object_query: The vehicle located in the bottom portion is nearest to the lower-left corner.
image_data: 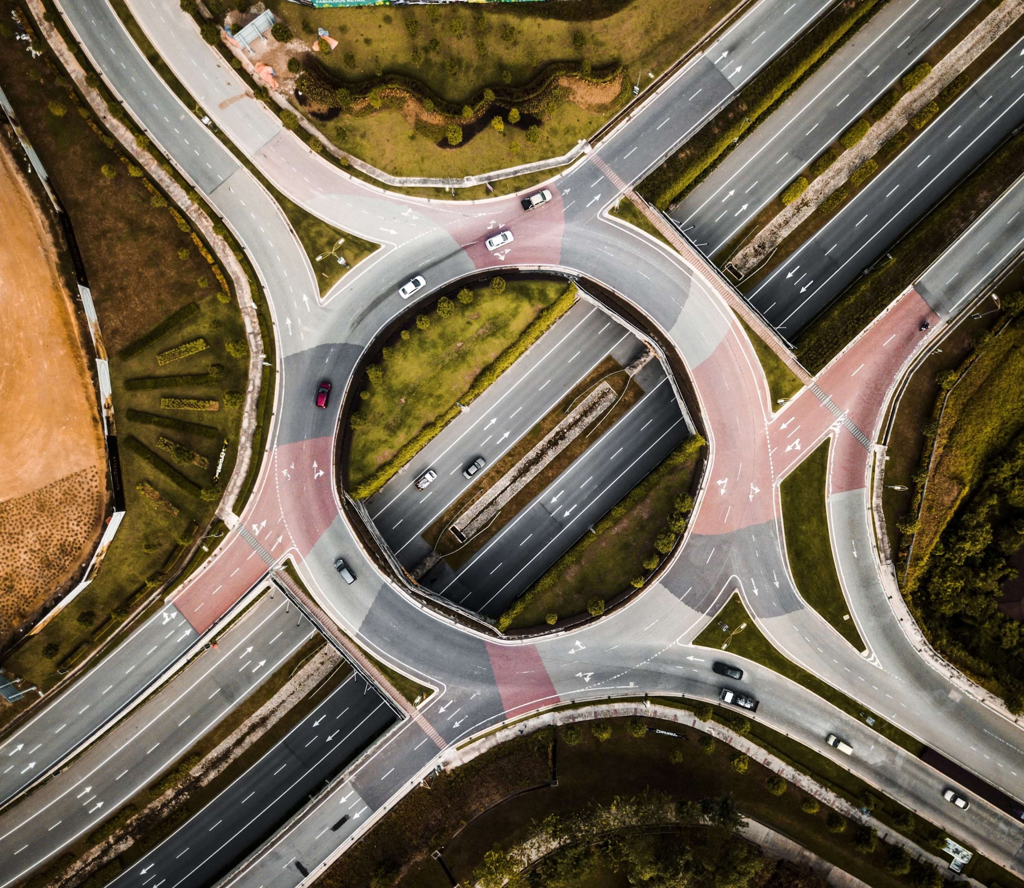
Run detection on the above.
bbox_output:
[334,559,357,586]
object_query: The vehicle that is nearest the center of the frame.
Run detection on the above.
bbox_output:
[462,457,487,480]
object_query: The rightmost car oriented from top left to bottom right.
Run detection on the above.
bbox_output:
[944,791,970,812]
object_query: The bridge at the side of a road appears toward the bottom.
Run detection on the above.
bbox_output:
[269,489,504,723]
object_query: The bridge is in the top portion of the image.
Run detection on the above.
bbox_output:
[570,182,820,434]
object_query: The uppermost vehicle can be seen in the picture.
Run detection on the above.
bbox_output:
[520,190,553,211]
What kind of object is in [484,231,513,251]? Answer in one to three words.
car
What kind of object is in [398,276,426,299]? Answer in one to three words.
car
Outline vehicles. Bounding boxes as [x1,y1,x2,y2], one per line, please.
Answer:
[944,791,970,812]
[334,559,357,586]
[316,382,331,409]
[719,688,760,714]
[520,190,553,211]
[412,468,440,494]
[398,276,426,299]
[826,735,855,757]
[462,457,487,480]
[713,662,743,681]
[484,231,513,251]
